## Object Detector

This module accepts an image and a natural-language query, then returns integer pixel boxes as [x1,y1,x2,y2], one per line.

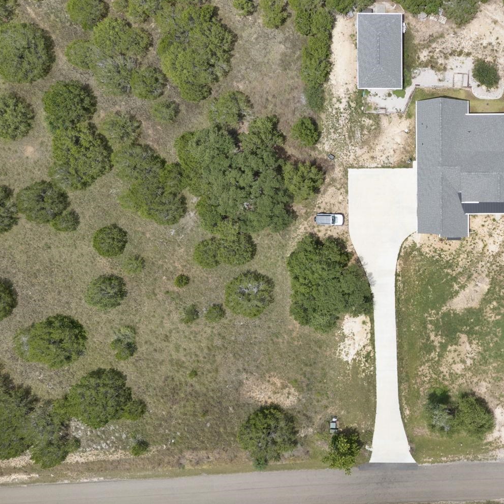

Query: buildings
[357,12,403,90]
[415,98,504,240]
